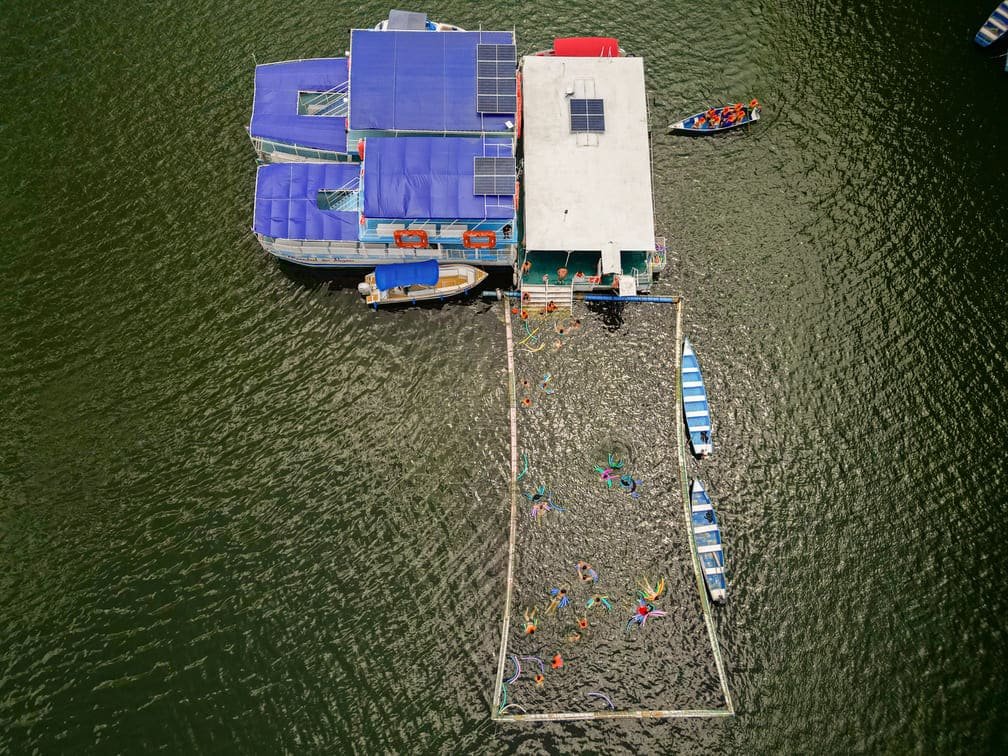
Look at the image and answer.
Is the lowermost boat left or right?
right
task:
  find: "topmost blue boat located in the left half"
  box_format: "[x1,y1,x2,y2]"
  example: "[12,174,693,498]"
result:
[243,20,516,170]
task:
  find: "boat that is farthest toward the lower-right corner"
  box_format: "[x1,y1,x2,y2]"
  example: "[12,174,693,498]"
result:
[693,478,726,607]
